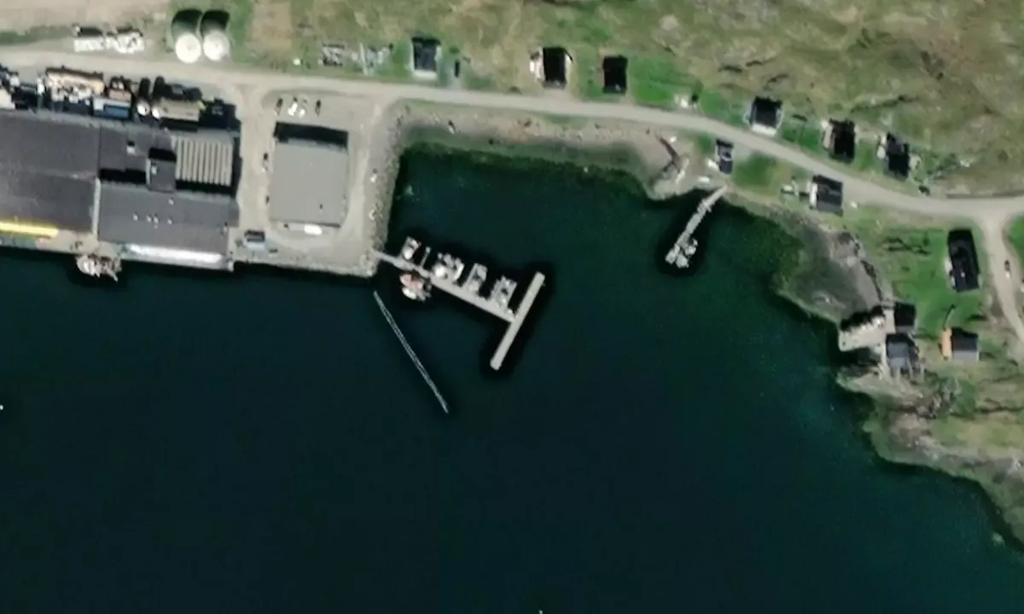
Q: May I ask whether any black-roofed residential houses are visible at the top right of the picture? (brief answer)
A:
Yes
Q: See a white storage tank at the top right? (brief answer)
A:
No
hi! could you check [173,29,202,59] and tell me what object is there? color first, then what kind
white storage tank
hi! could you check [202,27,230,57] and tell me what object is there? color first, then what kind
white storage tank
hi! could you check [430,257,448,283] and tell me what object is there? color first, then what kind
white boat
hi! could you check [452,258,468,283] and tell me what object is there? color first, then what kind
white boat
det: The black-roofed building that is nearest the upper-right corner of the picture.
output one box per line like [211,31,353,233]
[885,148,910,174]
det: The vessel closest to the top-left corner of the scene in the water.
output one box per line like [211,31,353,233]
[78,258,121,280]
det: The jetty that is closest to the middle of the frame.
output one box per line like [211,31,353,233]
[376,247,545,371]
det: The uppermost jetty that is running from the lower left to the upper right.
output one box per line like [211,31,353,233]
[665,187,727,262]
